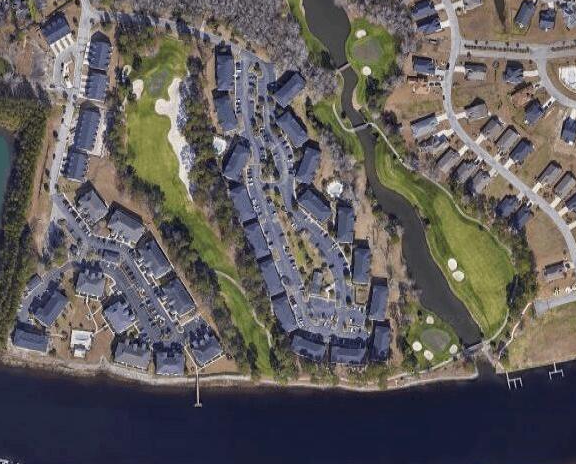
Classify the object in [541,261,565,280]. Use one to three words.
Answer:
house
